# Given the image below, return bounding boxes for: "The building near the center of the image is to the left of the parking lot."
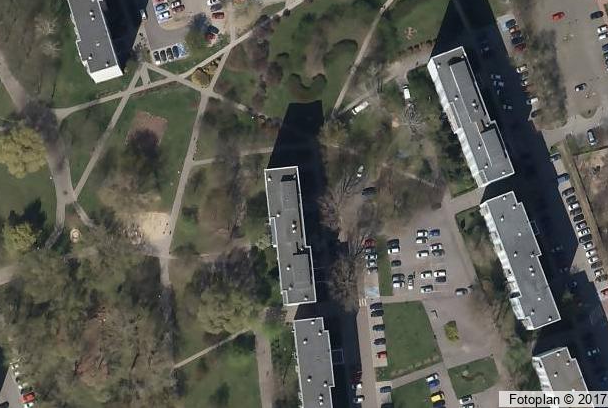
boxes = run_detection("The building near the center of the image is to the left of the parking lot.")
[262,166,316,306]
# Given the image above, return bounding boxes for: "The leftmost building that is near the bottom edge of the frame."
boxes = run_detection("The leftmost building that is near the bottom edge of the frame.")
[287,317,334,408]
